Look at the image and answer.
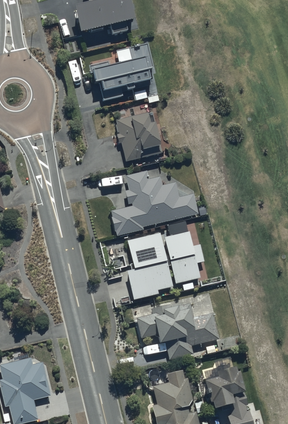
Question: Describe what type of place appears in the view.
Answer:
residential area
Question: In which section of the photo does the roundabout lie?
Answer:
top left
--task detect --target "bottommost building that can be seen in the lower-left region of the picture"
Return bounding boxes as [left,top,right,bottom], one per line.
[0,358,50,424]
